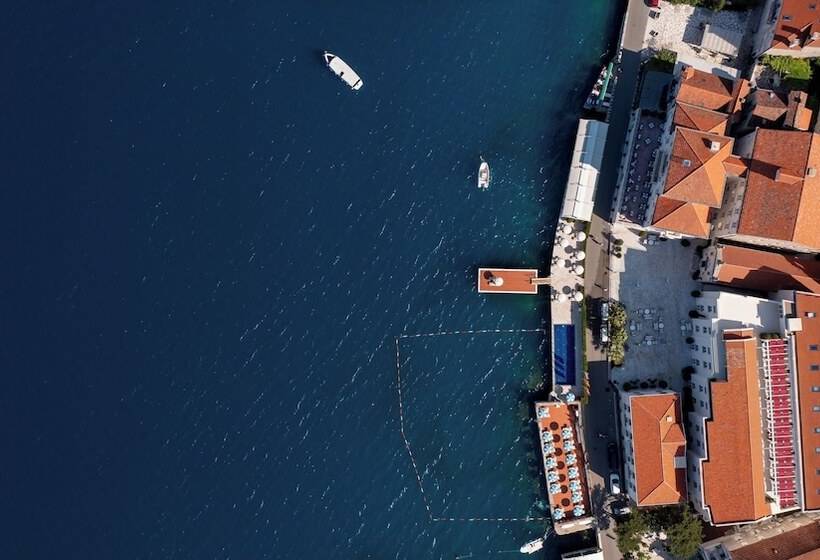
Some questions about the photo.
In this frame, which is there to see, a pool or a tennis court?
pool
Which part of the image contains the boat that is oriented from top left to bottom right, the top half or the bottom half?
top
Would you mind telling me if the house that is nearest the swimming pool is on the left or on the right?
right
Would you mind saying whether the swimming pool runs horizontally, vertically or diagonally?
vertically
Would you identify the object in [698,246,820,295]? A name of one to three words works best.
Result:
house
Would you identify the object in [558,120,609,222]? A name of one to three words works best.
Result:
building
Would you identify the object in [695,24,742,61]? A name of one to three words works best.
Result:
shed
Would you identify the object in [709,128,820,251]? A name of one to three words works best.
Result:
house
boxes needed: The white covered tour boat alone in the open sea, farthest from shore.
[325,55,366,95]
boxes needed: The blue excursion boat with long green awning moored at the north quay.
[581,68,610,114]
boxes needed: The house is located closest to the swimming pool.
[620,389,689,506]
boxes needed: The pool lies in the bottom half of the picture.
[553,323,578,387]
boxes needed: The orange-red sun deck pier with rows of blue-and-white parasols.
[534,400,597,535]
